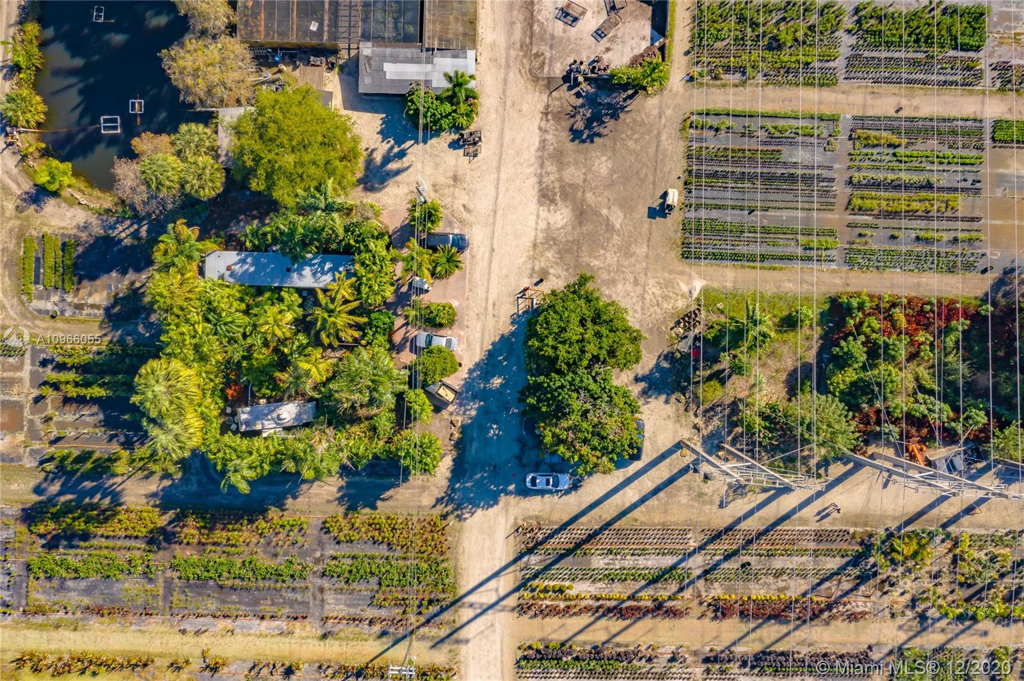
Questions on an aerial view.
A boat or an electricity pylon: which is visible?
electricity pylon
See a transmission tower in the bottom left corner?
No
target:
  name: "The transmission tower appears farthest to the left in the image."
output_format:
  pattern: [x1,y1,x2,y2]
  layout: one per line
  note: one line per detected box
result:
[677,438,826,487]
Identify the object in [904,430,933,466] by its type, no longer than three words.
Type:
work vehicle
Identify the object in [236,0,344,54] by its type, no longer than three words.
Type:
house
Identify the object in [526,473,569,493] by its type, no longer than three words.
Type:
car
